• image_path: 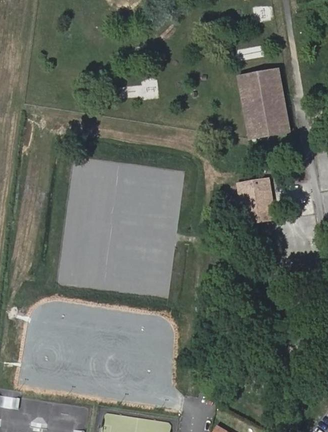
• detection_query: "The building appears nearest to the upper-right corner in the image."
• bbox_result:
[236,68,292,139]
